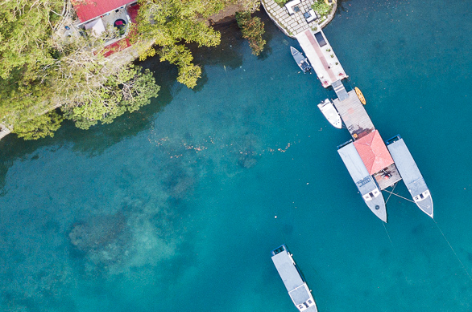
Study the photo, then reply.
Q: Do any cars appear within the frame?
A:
No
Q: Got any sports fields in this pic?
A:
No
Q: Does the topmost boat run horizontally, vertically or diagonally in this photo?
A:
diagonally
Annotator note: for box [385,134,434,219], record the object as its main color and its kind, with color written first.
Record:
white boat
